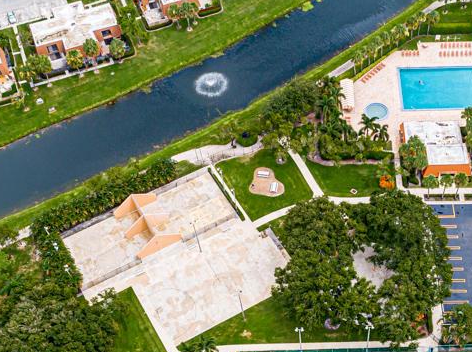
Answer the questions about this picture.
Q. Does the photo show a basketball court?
Yes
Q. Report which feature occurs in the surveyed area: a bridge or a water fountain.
water fountain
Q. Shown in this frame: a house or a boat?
house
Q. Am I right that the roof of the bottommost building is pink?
No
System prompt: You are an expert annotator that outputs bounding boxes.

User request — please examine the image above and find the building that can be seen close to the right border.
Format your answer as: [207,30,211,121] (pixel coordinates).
[399,120,472,178]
